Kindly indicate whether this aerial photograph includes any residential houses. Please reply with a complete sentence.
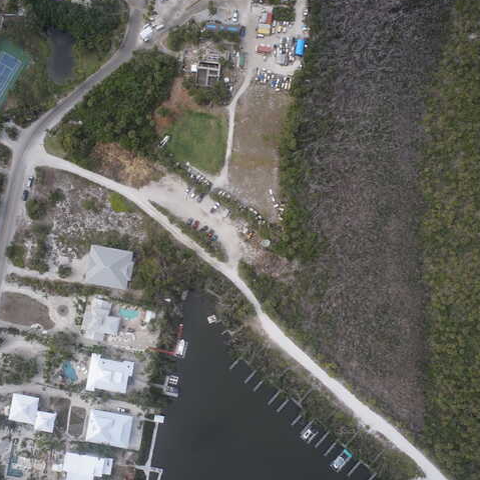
Yes, there's a residential house down there.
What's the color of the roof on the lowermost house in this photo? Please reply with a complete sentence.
From above, the roof of the lowermost house looks white.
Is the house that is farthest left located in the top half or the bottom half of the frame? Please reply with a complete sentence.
The house that is farthest left sits in the bottom half of the picture.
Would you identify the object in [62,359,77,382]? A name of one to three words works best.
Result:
swimming pool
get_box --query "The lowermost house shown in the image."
[52,452,113,480]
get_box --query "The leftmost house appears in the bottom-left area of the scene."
[9,393,57,433]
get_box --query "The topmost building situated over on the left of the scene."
[84,245,134,290]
